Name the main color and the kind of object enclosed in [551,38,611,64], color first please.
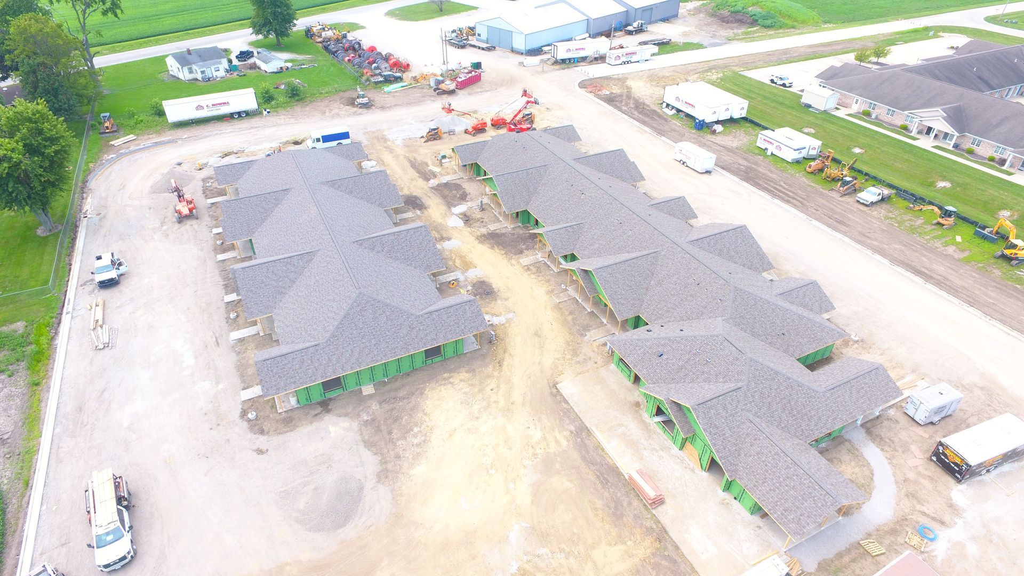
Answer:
white trailer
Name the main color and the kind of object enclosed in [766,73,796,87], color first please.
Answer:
white vehicle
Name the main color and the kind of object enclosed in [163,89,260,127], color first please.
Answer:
white trailer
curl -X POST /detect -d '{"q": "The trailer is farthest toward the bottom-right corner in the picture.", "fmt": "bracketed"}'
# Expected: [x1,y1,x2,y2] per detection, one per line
[931,403,1024,484]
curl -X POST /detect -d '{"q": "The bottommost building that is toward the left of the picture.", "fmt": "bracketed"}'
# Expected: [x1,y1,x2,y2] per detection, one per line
[212,141,490,413]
